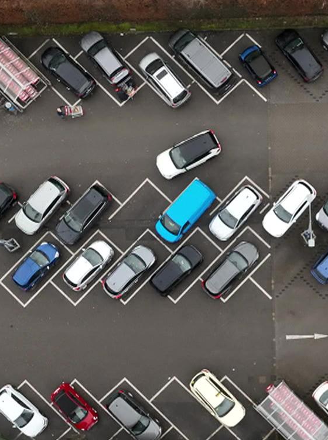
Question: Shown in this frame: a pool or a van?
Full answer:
Of the two, only a van appears.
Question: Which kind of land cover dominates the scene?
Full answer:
The scene is dominated by paved ground.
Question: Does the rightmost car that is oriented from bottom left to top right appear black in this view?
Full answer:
No, from above the rightmost car that is oriented from bottom left to top right looks white.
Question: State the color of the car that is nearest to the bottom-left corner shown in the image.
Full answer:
The car that is nearest to the bottom-left corner looks white in the image.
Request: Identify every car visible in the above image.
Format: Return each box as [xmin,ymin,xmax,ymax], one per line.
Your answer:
[0,383,48,438]
[312,379,328,415]
[12,242,61,291]
[160,126,220,179]
[50,382,99,430]
[63,241,114,292]
[312,249,328,285]
[18,176,71,234]
[276,31,321,84]
[101,246,156,301]
[189,368,246,426]
[0,182,18,219]
[202,244,258,300]
[138,52,192,112]
[81,30,133,89]
[43,45,99,102]
[150,246,202,297]
[57,181,114,242]
[240,45,278,90]
[264,179,317,236]
[213,184,263,239]
[105,390,161,440]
